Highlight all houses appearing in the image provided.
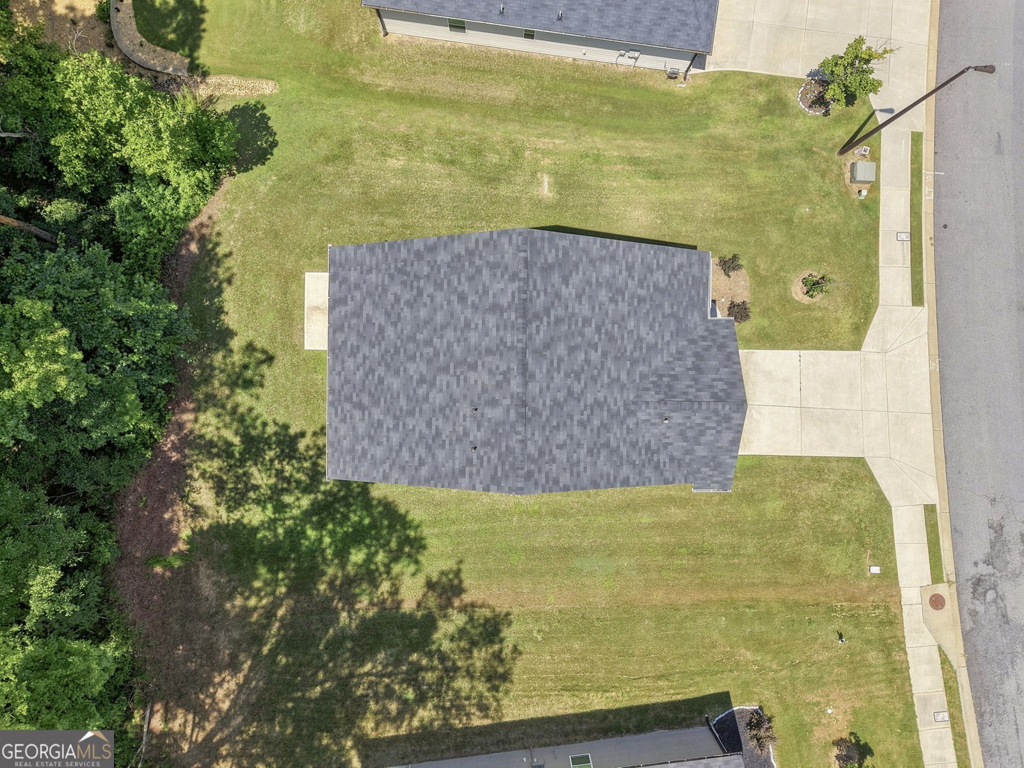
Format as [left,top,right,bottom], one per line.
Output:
[357,0,724,88]
[325,229,748,496]
[367,714,745,768]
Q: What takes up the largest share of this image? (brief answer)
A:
grass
